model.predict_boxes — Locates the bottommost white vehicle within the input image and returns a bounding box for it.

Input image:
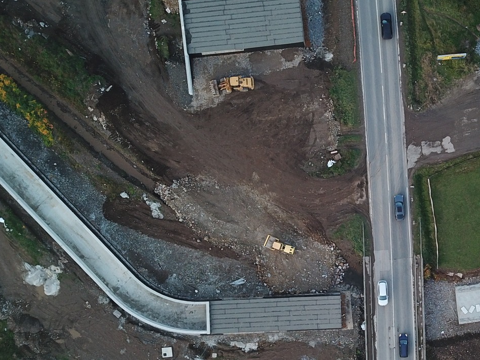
[376,280,389,306]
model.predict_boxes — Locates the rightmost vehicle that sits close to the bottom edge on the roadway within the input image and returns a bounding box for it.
[398,333,410,358]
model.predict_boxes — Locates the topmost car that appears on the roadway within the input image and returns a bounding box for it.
[379,12,393,41]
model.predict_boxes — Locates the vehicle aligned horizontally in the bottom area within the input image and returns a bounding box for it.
[260,234,294,254]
